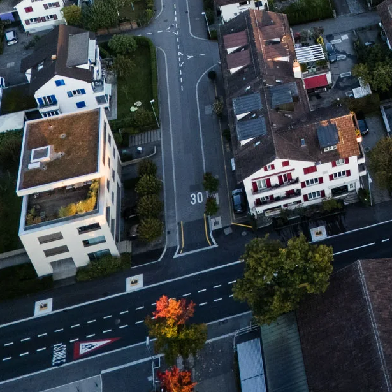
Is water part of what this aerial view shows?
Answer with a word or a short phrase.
No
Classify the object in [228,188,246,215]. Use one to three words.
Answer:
car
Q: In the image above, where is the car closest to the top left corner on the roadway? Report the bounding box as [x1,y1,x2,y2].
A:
[4,29,18,47]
